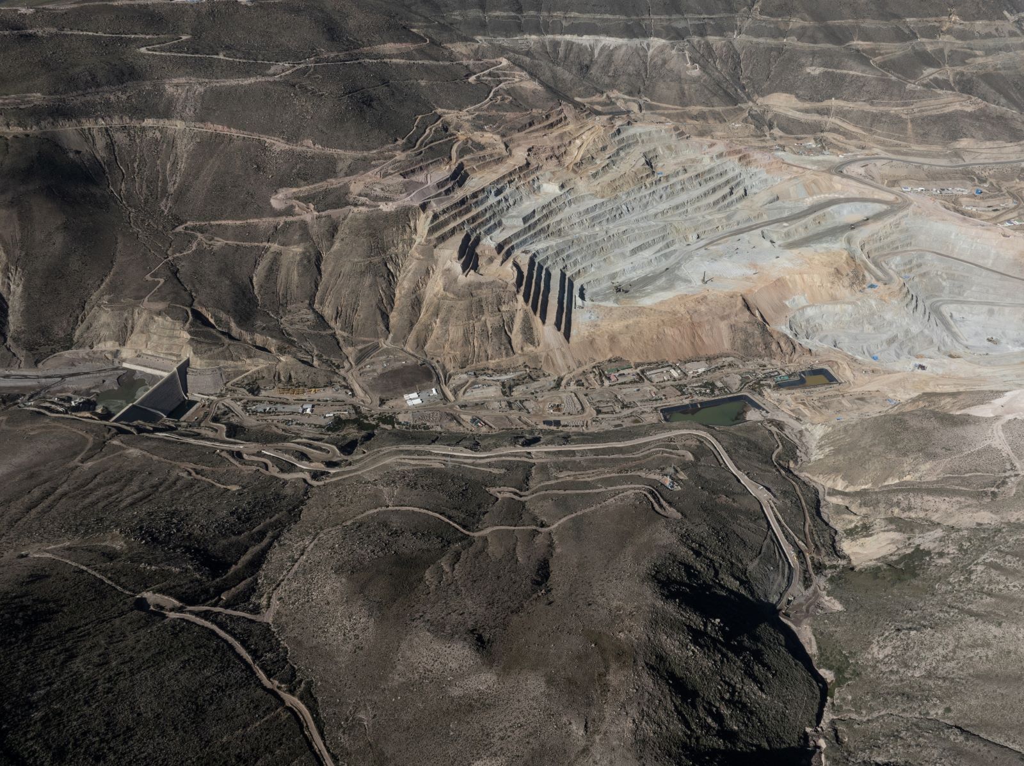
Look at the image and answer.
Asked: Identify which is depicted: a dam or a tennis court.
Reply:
dam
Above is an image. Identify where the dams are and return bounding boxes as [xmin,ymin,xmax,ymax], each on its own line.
[107,356,202,426]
